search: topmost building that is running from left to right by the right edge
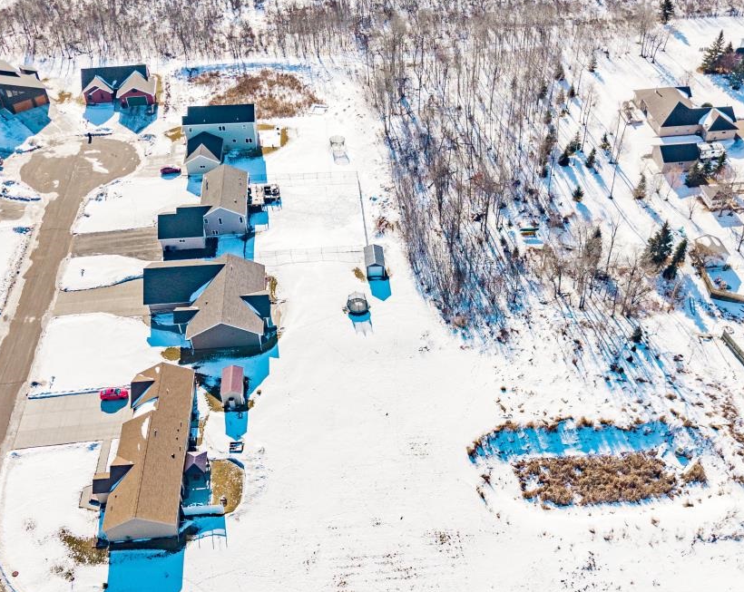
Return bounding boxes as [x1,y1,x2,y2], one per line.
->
[620,79,738,141]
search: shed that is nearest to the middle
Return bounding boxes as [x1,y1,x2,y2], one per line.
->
[366,243,390,279]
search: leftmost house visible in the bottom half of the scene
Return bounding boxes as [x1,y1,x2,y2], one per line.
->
[93,363,196,542]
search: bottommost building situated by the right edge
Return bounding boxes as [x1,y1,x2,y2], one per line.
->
[697,235,736,264]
